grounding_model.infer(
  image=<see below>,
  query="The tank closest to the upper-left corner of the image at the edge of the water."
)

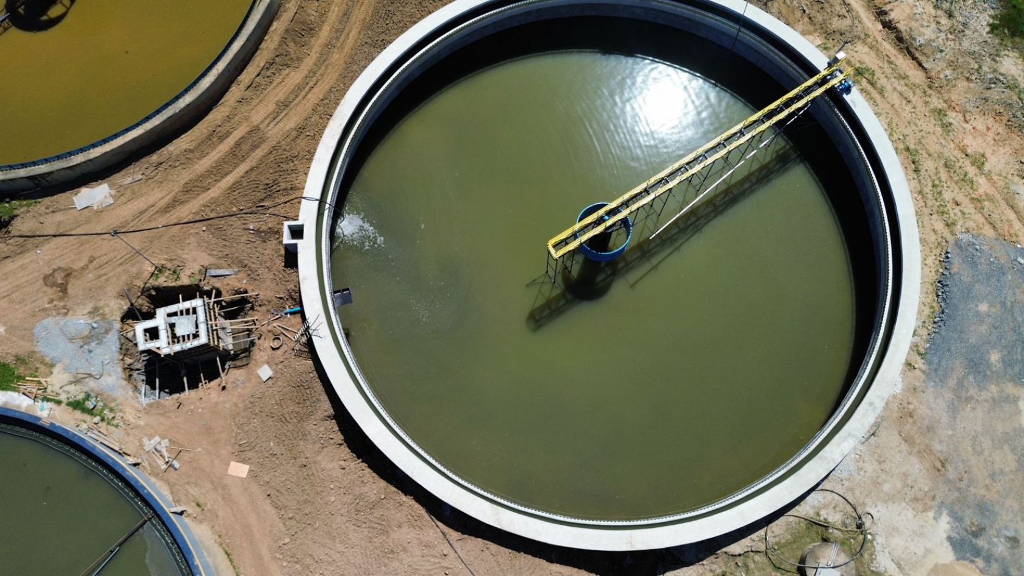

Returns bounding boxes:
[0,0,280,194]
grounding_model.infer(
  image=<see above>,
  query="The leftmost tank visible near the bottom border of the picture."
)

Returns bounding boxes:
[0,403,217,576]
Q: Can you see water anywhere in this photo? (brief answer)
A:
Yes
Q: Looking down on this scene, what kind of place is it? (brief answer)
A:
industrial area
